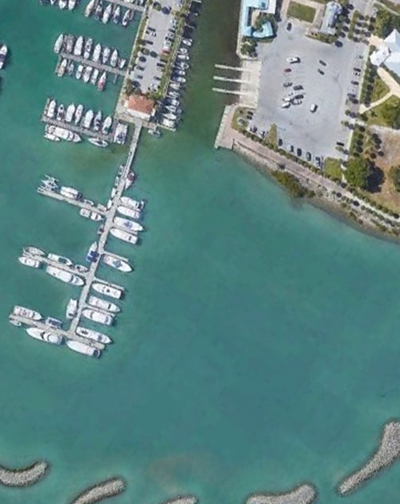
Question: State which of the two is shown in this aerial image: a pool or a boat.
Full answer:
This aerial view contains a boat.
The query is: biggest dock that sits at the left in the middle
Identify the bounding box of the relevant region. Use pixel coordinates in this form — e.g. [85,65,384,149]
[9,125,141,350]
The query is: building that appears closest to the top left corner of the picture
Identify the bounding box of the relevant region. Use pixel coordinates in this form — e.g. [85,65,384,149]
[128,95,155,113]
